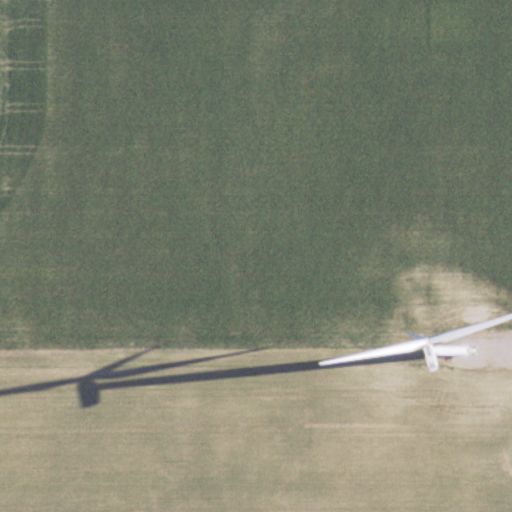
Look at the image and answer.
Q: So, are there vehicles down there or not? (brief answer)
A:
No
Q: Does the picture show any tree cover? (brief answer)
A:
No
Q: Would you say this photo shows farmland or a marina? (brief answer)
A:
farmland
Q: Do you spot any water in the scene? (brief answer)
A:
No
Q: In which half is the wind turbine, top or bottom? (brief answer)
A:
bottom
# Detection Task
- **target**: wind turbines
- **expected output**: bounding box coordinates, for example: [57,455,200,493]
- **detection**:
[318,316,512,372]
